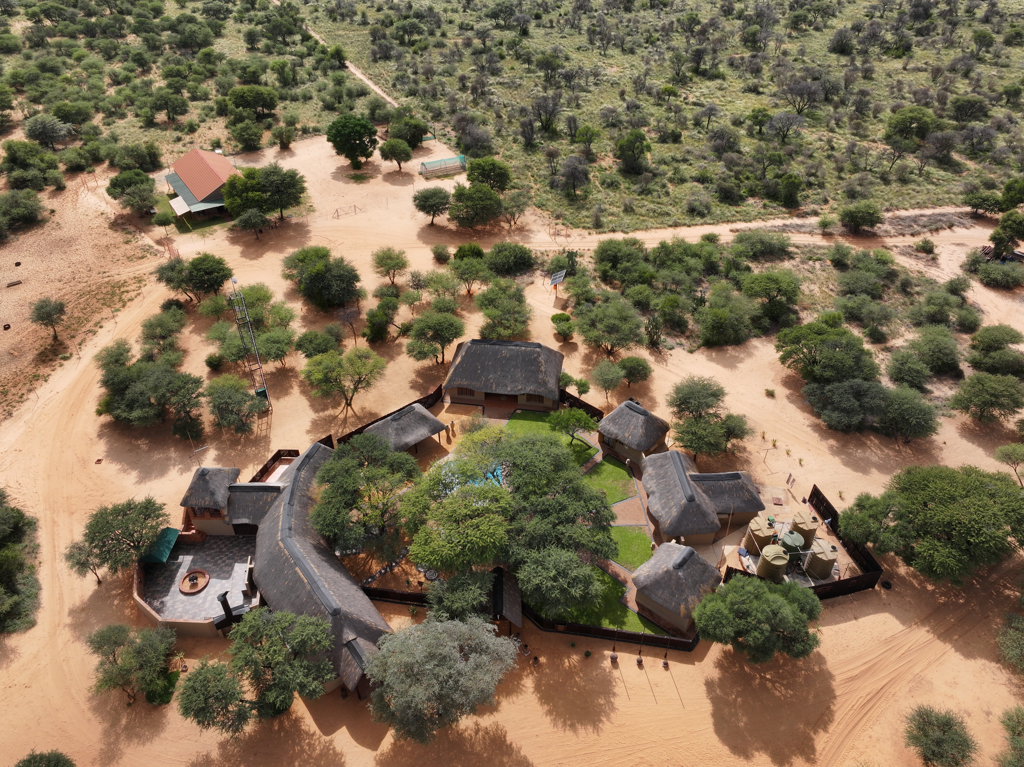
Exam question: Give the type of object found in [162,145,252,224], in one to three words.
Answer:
house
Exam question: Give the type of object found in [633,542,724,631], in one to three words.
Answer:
shed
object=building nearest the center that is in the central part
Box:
[442,339,568,410]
